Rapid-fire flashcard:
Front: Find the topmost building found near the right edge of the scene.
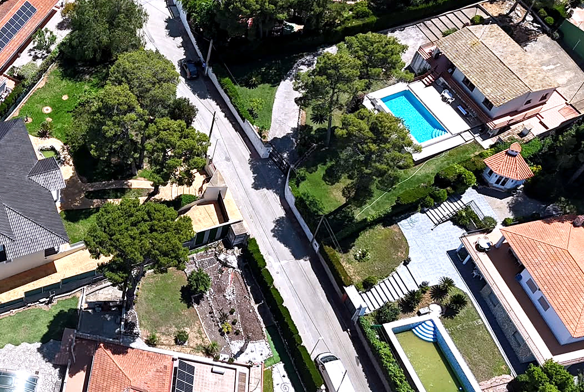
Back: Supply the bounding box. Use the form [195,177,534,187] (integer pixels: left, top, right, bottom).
[420,24,568,129]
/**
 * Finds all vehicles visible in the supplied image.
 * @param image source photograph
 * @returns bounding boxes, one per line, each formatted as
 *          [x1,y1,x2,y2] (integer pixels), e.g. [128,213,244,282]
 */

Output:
[178,57,202,83]
[312,348,366,392]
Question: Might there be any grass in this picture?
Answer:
Yes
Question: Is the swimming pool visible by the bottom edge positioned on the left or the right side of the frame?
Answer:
right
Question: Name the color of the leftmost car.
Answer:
black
